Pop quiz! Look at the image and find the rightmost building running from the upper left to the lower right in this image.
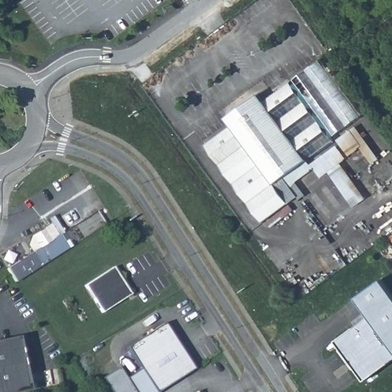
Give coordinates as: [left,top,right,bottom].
[350,126,378,165]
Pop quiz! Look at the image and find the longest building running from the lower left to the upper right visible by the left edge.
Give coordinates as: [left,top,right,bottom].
[10,214,74,282]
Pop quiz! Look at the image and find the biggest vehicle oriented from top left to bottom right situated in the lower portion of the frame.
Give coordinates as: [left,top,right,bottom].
[120,356,137,372]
